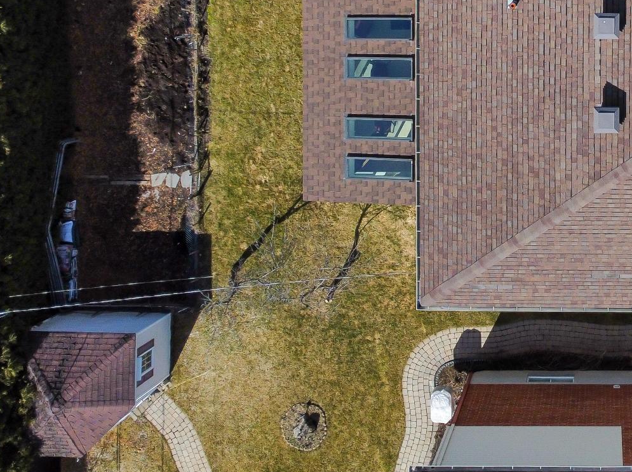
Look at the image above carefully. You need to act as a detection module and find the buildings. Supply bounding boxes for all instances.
[20,311,169,459]
[302,0,632,312]
[409,372,632,472]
